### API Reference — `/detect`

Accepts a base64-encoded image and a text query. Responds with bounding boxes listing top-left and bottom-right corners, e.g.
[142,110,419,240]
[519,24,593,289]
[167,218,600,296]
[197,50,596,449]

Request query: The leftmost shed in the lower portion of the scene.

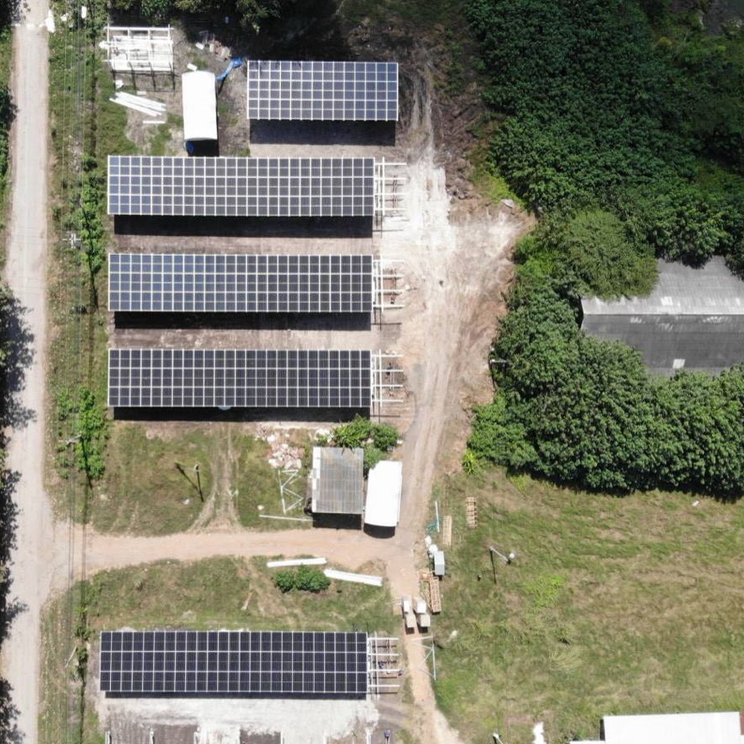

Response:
[312,448,363,515]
